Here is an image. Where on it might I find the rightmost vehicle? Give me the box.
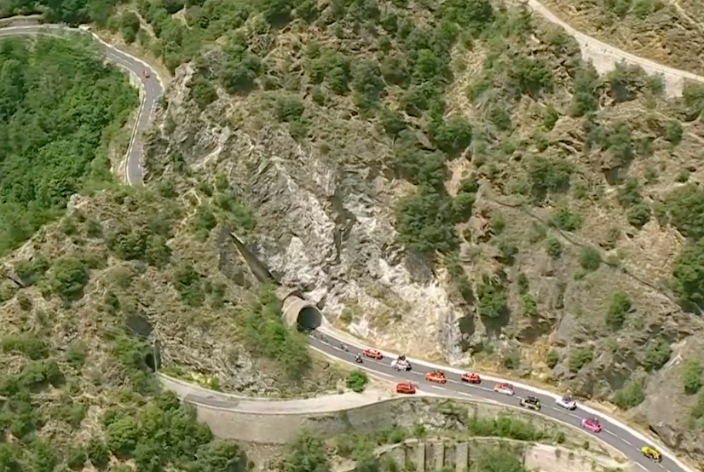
[641,445,662,460]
